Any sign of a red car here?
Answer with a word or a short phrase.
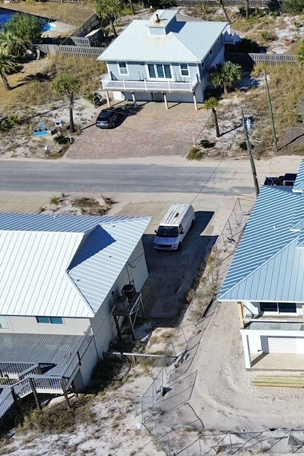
No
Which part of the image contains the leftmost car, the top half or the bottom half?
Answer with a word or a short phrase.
top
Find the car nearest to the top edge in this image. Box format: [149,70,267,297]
[98,101,135,127]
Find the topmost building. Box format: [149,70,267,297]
[95,11,244,110]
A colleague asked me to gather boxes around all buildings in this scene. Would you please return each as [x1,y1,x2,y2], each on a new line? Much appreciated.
[216,158,304,374]
[0,214,154,417]
[95,11,244,110]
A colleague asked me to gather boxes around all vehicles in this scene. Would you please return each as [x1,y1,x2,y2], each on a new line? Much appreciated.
[151,192,204,246]
[258,168,299,192]
[98,101,135,127]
